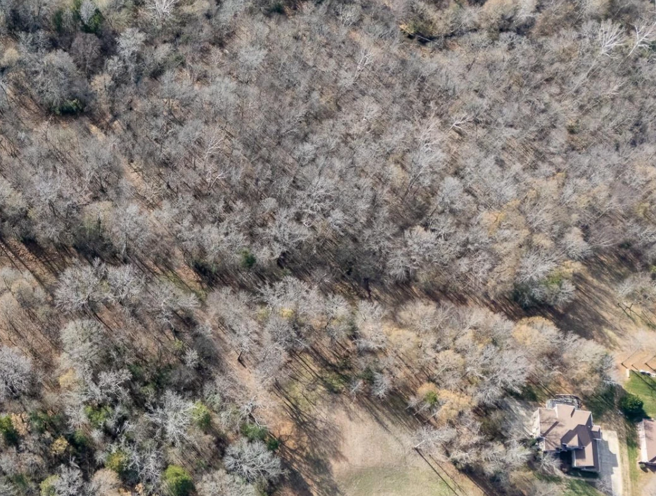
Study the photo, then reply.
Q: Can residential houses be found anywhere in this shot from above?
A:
Yes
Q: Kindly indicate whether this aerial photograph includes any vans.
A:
No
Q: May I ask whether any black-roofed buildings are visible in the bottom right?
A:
No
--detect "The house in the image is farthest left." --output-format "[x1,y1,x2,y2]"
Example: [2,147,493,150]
[532,404,601,475]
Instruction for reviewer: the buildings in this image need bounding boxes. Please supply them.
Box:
[637,417,656,465]
[532,404,601,475]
